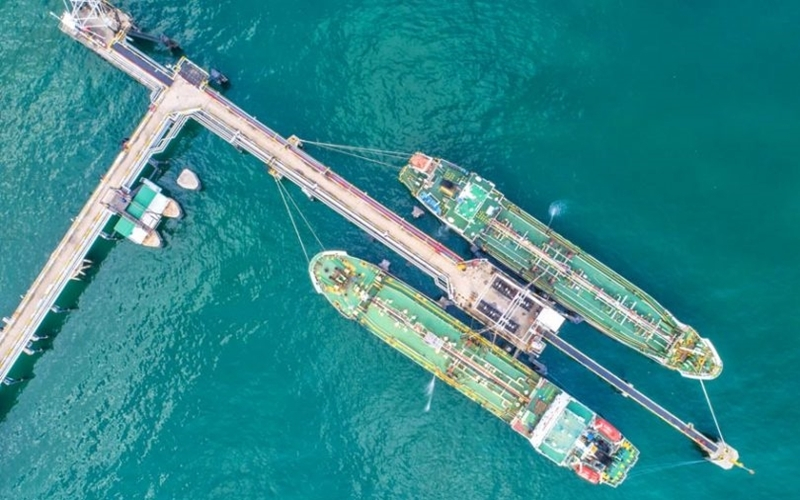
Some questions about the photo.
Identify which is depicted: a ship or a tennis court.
ship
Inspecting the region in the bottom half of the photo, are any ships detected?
Yes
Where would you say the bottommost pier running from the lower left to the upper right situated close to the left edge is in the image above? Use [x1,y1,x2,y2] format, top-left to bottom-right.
[0,116,175,384]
